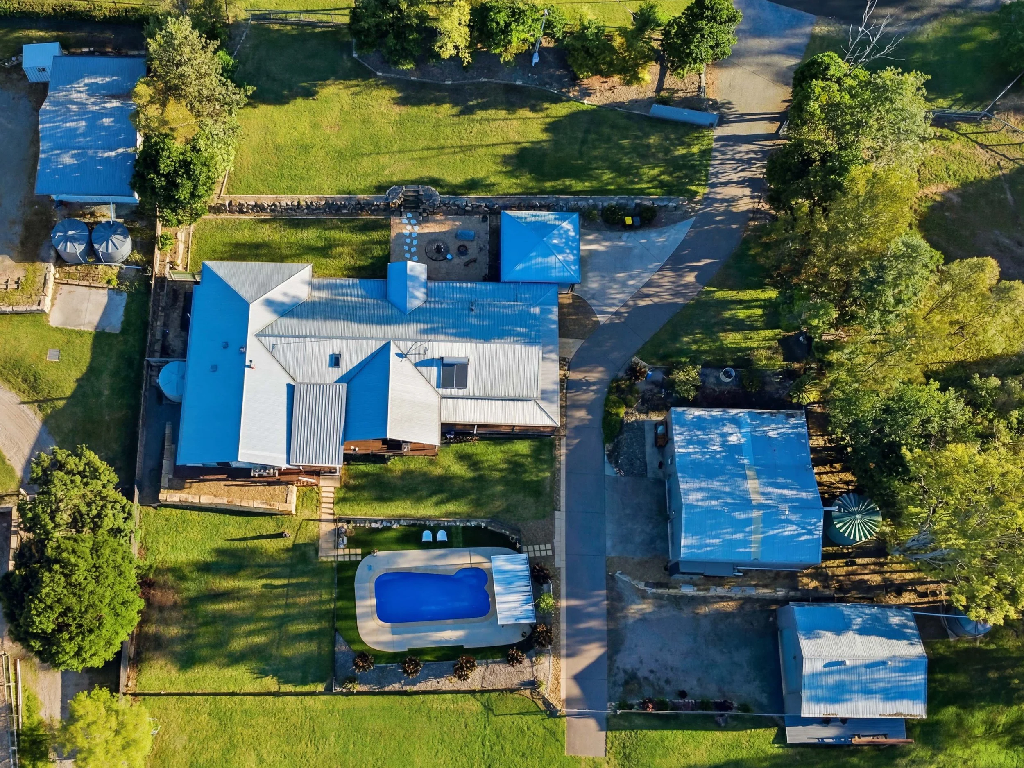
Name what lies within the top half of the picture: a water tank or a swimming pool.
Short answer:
water tank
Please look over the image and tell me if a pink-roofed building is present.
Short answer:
No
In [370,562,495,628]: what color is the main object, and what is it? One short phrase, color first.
blue swimming pool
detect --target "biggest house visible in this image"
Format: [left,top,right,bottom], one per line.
[173,260,561,483]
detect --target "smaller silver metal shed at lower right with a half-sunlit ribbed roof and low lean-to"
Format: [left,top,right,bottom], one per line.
[778,602,975,744]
